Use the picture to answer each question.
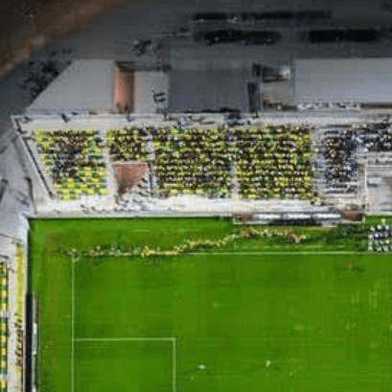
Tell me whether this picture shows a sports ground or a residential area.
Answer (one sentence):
The picture captures a sports ground.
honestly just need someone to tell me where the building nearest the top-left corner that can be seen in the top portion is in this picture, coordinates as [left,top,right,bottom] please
[29,59,118,115]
